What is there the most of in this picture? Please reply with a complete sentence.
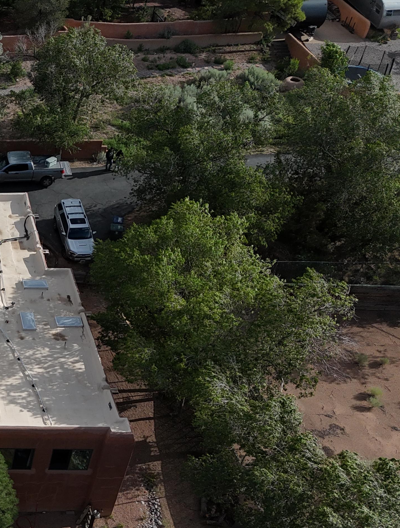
The bulk of the photo consists of trees.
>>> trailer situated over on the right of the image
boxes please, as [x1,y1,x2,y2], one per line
[351,0,400,24]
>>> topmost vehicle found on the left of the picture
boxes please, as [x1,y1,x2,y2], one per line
[0,148,74,187]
